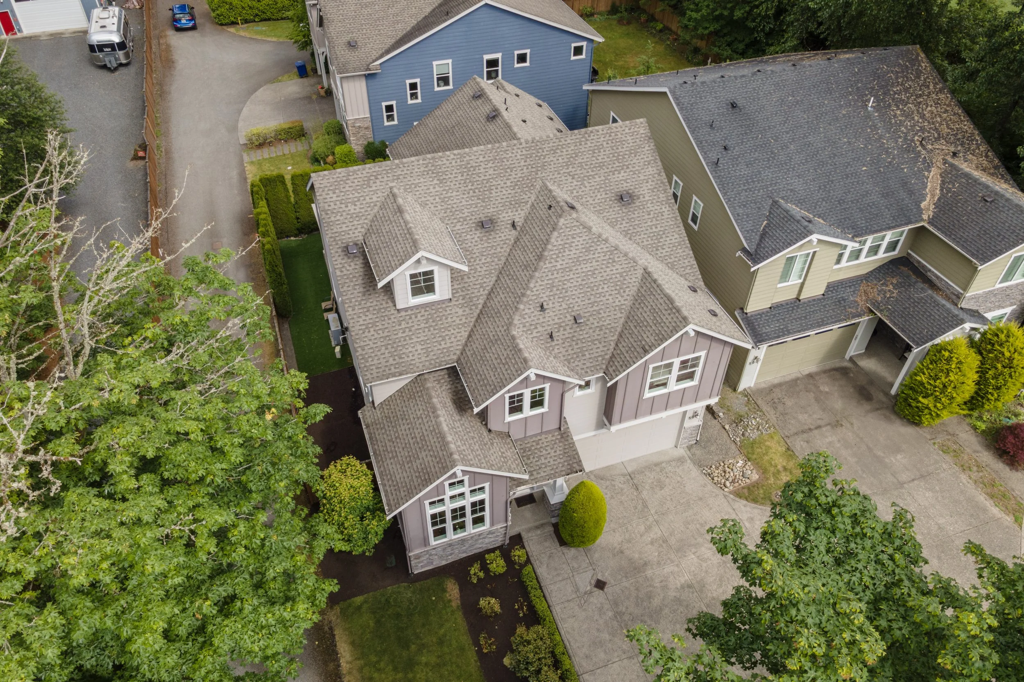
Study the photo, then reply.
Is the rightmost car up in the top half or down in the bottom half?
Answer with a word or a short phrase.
top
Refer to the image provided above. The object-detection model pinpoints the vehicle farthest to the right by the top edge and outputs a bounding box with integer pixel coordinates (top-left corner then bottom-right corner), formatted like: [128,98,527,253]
[168,1,196,29]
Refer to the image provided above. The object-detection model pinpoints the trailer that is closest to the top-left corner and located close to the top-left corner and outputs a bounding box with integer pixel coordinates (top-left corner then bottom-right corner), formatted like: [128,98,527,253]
[91,4,135,74]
